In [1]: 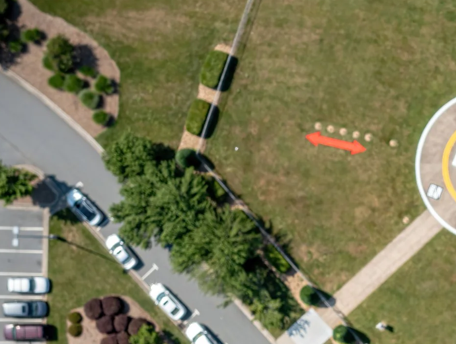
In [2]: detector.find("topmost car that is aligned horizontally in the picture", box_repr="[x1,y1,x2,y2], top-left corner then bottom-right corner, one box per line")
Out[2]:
[8,276,52,295]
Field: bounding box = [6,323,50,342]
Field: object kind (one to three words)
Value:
vehicle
